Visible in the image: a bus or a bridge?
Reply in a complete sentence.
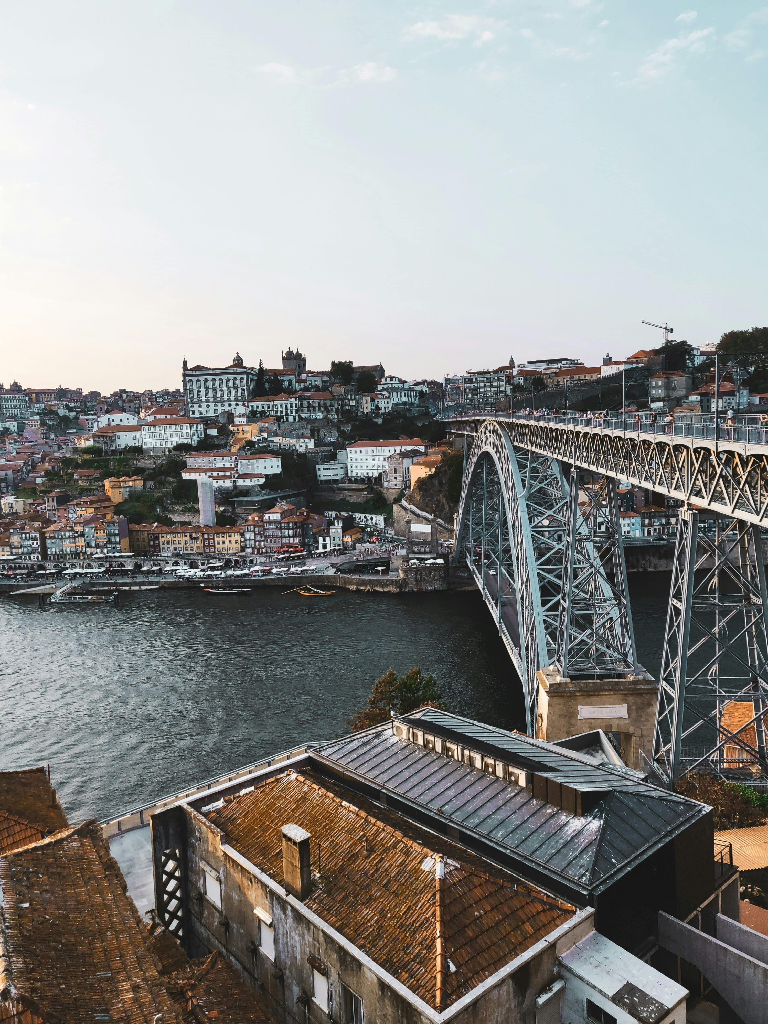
Visible in the photo is a bridge.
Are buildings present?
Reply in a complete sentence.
Yes, looking at the shot, I can spot a building.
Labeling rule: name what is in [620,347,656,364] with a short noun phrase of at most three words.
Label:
house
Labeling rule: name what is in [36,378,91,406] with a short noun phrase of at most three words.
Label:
building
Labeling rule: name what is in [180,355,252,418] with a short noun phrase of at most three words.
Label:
building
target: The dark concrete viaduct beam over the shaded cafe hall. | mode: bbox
[328,556,399,575]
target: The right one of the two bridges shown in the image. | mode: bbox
[439,407,768,789]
